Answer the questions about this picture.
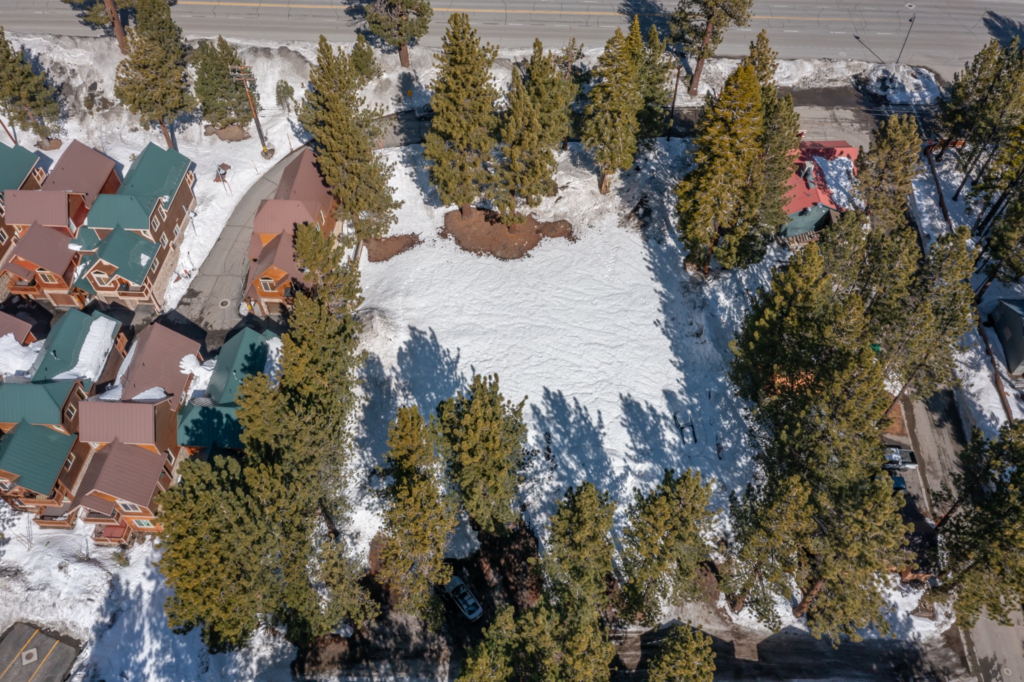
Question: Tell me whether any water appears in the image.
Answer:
No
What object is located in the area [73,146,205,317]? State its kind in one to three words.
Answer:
house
